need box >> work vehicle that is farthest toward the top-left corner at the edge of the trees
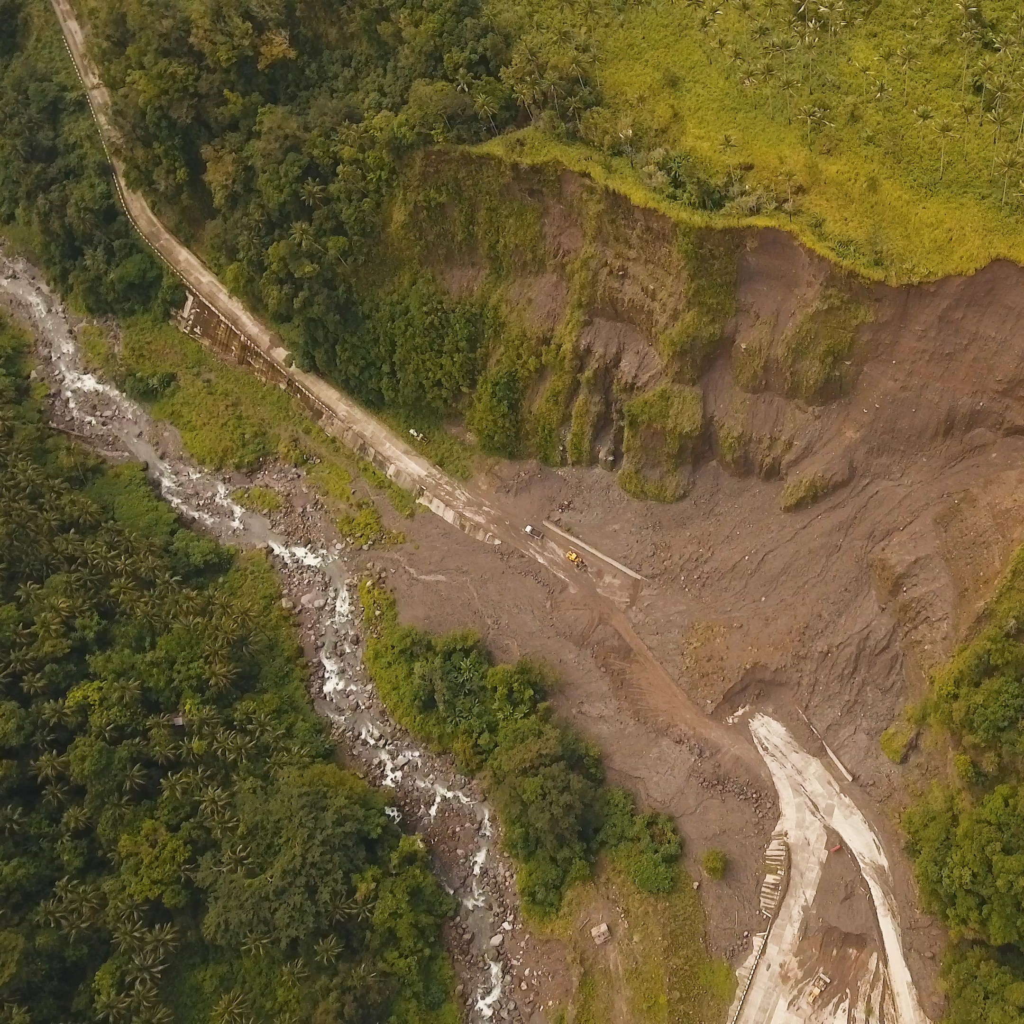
[408,427,429,443]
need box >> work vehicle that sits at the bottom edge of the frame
[807,972,832,1005]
